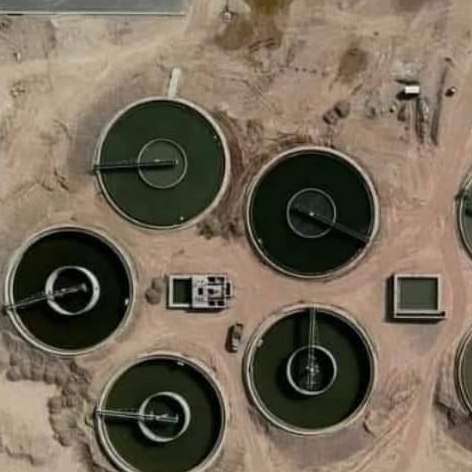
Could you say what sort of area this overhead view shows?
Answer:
industrial area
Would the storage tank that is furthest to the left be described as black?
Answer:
Yes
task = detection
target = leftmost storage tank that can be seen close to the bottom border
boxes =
[92,352,229,472]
